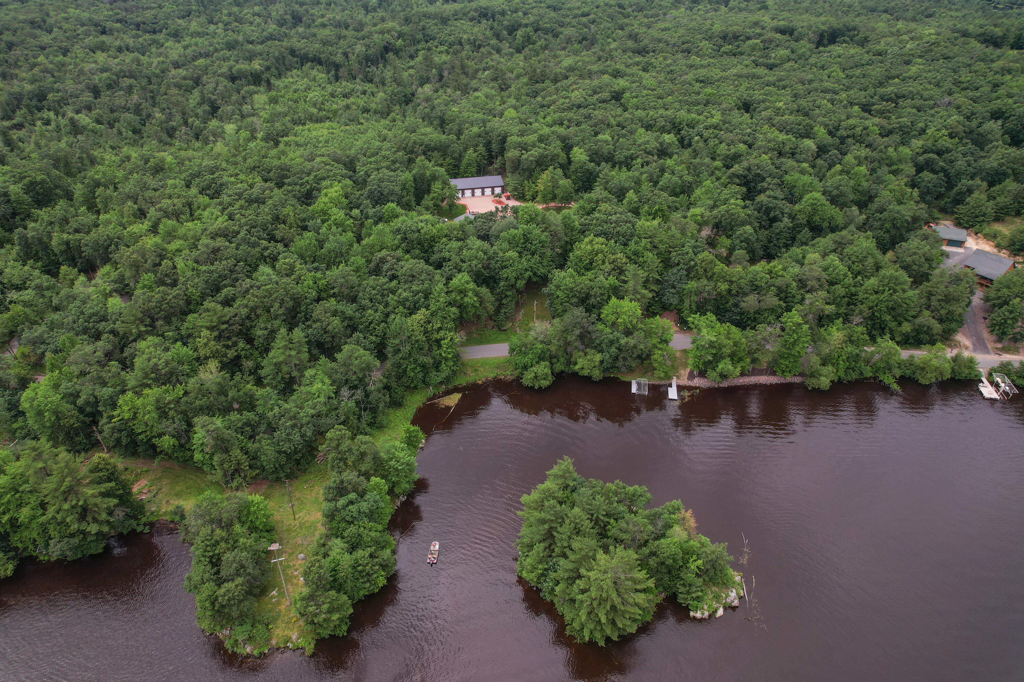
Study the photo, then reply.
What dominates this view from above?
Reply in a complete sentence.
The bulk of the photo consists of trees.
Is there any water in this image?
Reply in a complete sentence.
Yes, water shows up in the scene.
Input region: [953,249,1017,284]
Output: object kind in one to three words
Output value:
building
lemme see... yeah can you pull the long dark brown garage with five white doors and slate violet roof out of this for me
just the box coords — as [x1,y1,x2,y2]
[447,175,505,197]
